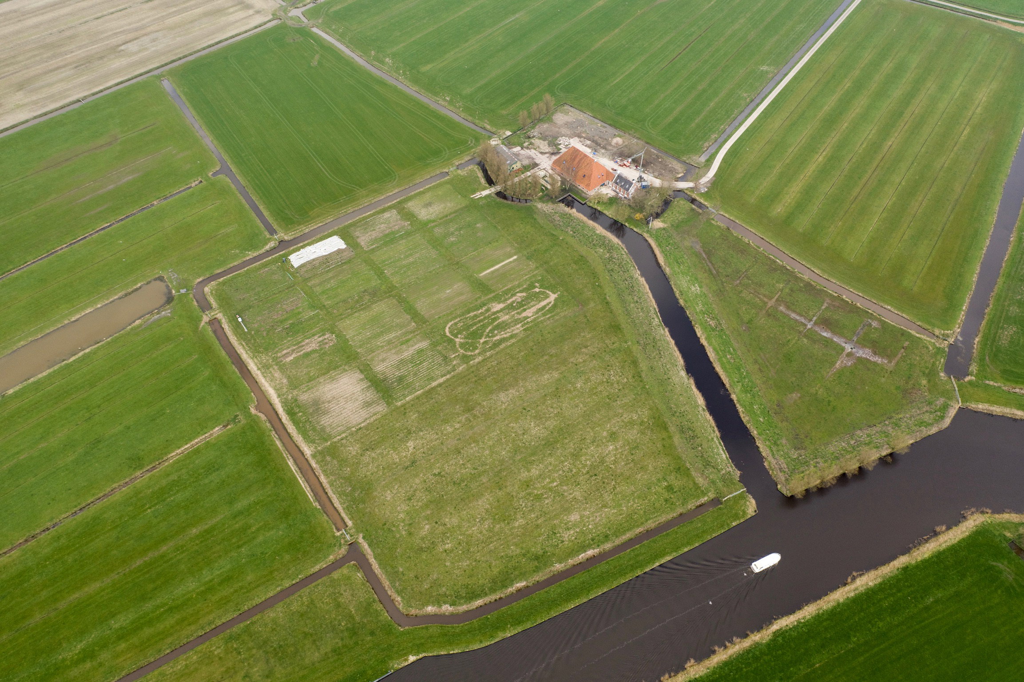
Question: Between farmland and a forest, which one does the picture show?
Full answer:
The area seen from above is farmland.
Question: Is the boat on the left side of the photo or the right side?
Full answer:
It is on the right.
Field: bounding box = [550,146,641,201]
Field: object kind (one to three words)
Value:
house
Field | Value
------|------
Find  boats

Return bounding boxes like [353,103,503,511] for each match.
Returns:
[751,552,779,572]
